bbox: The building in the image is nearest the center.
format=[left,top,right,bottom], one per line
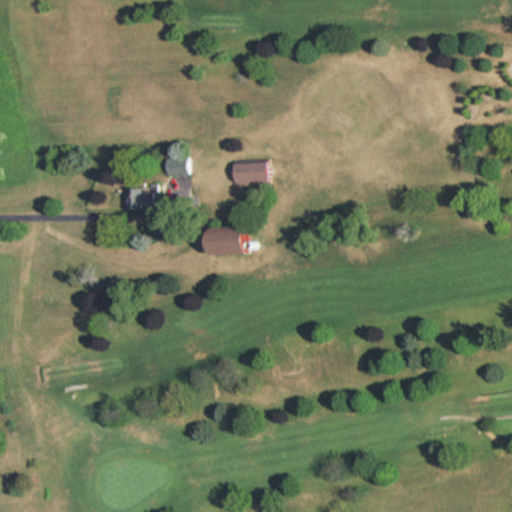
[200,229,248,254]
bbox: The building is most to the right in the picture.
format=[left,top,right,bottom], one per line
[230,160,270,184]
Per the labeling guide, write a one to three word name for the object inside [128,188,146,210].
house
